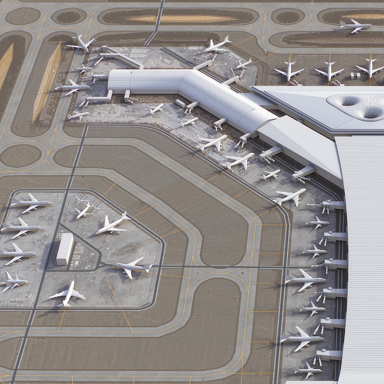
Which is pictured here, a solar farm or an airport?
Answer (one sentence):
The area seen from above is an airport.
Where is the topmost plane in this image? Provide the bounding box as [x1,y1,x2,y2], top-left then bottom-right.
[341,18,372,31]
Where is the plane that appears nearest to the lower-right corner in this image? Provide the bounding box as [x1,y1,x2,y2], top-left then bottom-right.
[295,362,321,379]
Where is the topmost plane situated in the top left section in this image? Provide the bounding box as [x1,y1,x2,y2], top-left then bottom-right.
[65,30,94,52]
